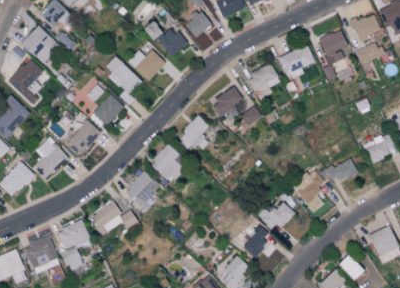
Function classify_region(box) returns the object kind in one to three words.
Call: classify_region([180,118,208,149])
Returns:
house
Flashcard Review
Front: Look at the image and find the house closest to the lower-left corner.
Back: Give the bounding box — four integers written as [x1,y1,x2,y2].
[0,249,28,285]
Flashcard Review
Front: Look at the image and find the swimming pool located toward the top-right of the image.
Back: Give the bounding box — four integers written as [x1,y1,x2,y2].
[384,62,398,77]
